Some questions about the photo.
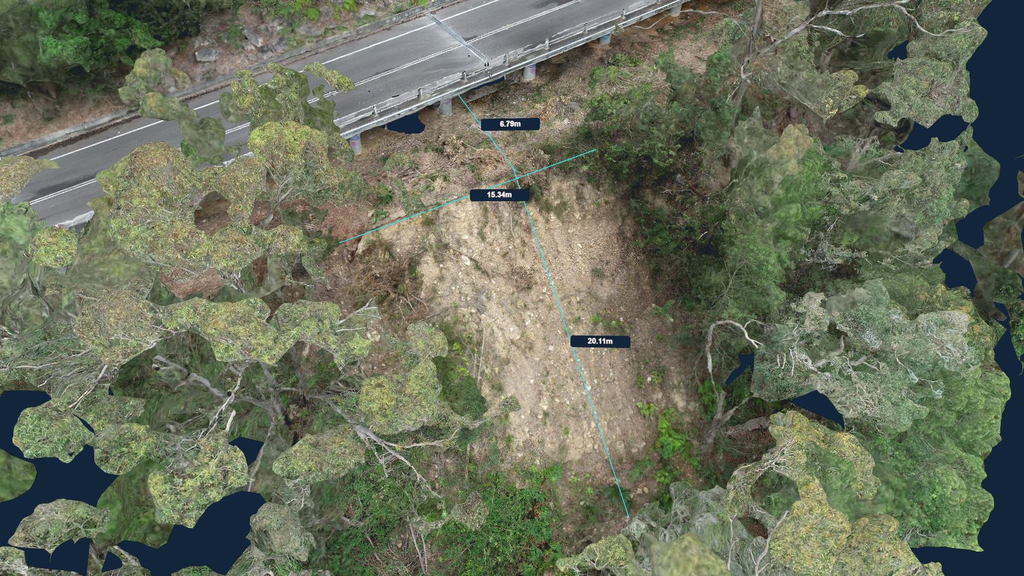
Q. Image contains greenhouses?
No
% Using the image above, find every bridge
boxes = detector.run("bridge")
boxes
[320,0,694,155]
